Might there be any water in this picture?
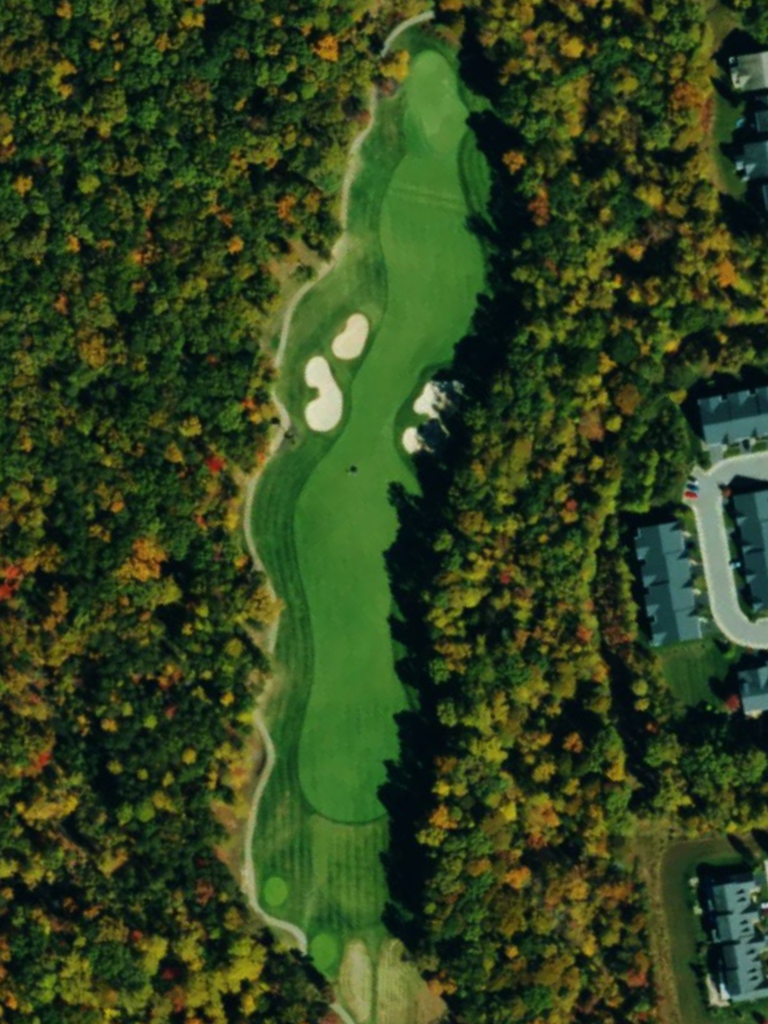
No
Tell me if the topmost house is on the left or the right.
right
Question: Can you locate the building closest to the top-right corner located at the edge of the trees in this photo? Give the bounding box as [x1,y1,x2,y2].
[730,53,768,93]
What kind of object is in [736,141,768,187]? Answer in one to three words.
house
